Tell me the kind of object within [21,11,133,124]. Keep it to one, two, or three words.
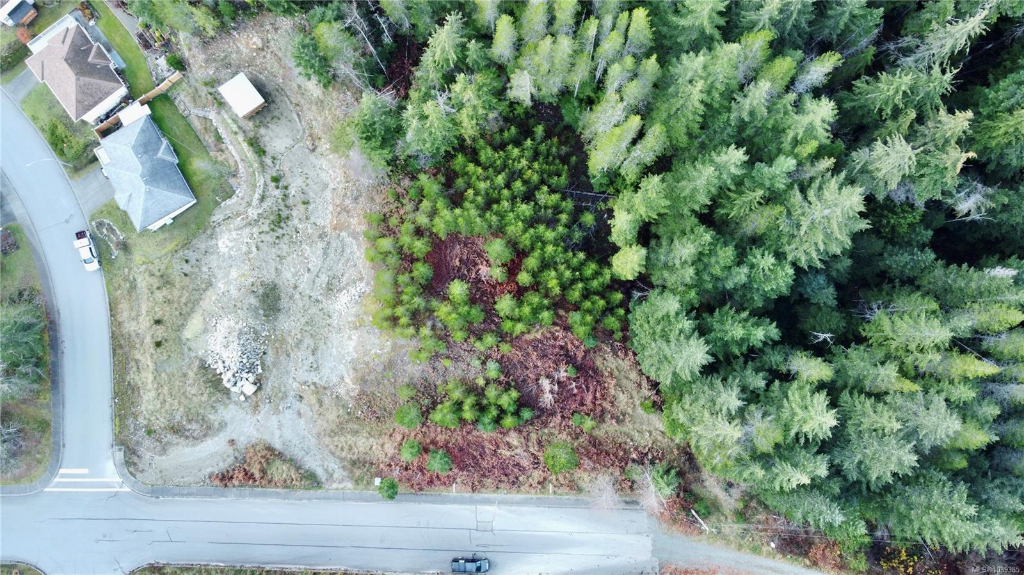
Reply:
house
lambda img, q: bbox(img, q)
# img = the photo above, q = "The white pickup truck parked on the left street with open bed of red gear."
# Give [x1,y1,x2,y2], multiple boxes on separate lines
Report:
[73,229,103,273]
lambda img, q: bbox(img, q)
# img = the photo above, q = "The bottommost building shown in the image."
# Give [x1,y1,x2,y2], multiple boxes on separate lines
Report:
[94,115,200,232]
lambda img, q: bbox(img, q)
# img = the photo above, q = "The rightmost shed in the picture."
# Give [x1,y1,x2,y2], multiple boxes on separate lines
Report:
[219,72,271,121]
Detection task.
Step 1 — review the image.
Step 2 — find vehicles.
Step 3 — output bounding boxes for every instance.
[73,229,103,273]
[450,556,491,575]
